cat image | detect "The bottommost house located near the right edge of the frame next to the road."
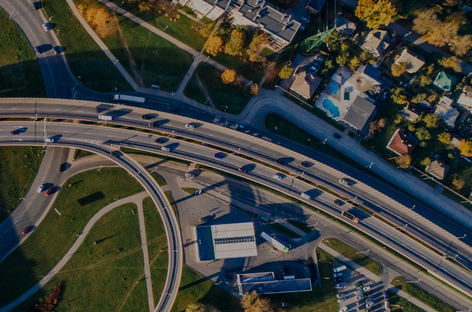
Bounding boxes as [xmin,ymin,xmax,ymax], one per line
[424,158,450,180]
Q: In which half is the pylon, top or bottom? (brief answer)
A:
top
